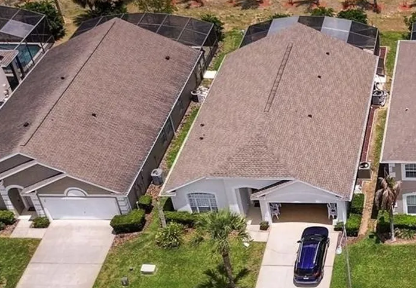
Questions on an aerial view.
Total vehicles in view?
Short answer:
1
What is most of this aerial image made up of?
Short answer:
buildings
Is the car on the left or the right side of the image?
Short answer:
right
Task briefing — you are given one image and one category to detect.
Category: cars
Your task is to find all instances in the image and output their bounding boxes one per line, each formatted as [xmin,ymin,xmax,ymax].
[294,225,330,279]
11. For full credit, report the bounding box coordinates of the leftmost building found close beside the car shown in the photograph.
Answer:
[165,22,380,225]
